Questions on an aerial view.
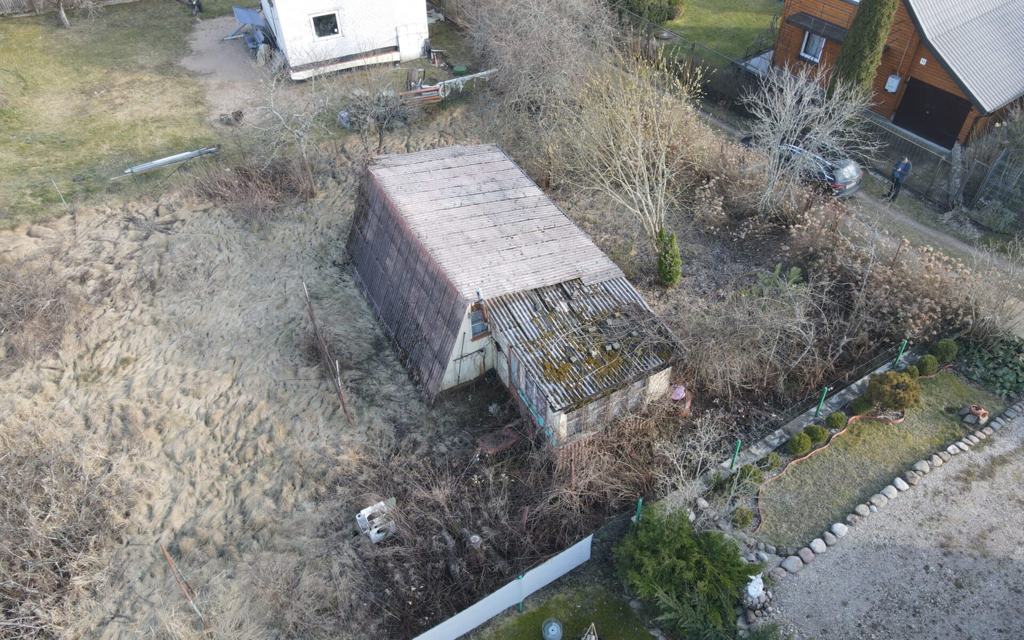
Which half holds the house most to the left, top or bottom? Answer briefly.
top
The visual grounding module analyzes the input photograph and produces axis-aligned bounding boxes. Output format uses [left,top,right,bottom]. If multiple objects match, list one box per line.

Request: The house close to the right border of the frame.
[773,0,1024,149]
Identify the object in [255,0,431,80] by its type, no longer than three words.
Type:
house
